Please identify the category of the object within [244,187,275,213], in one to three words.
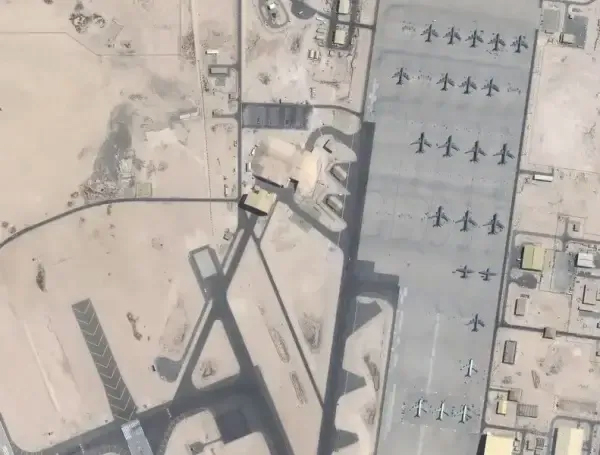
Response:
hangar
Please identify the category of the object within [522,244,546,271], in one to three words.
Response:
hangar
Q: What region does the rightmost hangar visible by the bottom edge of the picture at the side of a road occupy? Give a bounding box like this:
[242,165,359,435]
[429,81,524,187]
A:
[555,427,585,455]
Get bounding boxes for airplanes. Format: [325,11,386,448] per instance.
[432,402,449,420]
[482,78,499,96]
[455,210,476,232]
[483,214,503,235]
[456,265,475,279]
[454,405,471,423]
[510,35,527,53]
[465,29,482,47]
[438,136,459,157]
[411,132,431,153]
[459,76,476,94]
[391,67,409,85]
[442,26,460,45]
[461,360,478,378]
[421,24,438,42]
[493,143,513,165]
[410,399,427,418]
[467,314,483,331]
[465,141,486,162]
[488,33,505,51]
[437,73,454,91]
[478,268,496,281]
[429,206,449,228]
